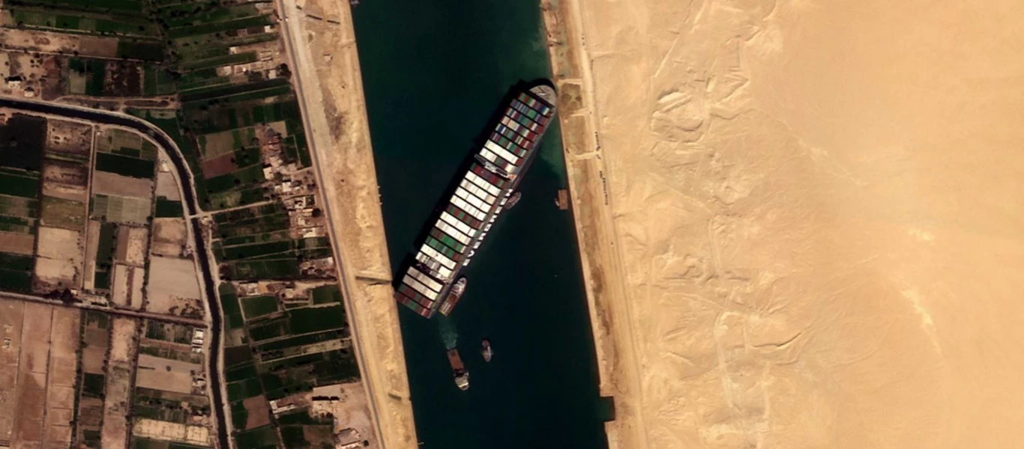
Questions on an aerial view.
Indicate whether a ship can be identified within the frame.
Yes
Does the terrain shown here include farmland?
Yes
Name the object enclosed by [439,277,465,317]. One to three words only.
ship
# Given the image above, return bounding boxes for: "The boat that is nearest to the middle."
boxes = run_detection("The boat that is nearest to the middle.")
[505,192,521,210]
